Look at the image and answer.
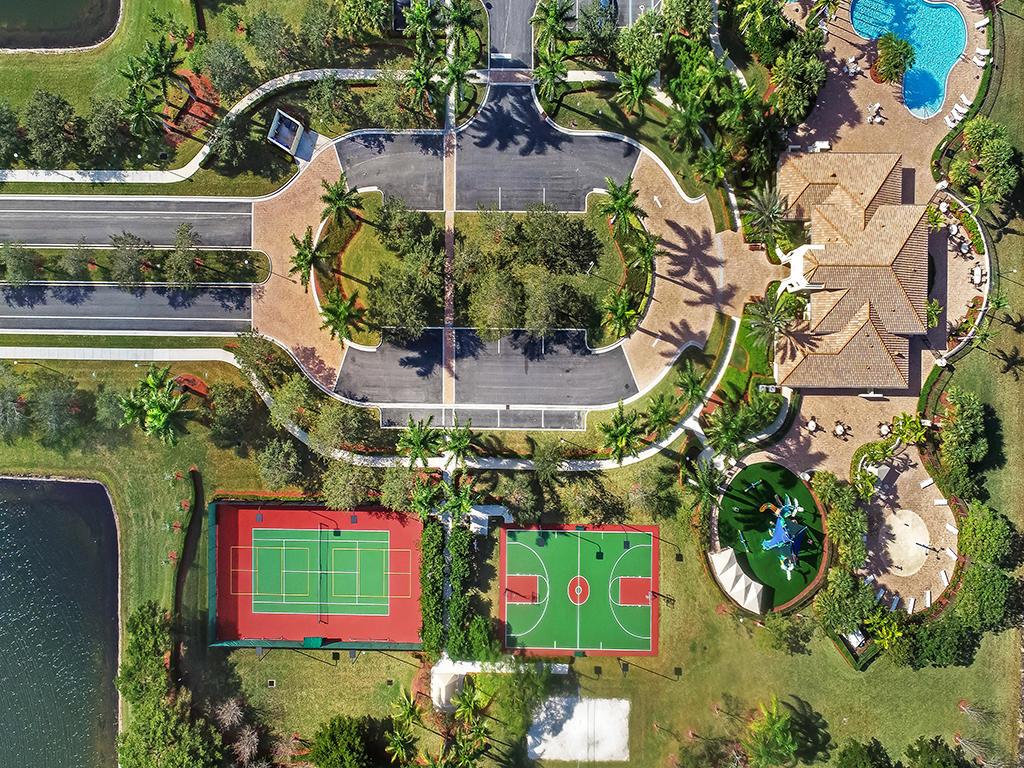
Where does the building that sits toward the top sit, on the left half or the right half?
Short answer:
right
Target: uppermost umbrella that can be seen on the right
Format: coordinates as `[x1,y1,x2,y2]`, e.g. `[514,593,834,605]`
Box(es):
[875,461,891,482]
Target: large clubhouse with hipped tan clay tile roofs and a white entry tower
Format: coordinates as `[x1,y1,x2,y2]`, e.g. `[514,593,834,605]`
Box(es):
[768,152,928,388]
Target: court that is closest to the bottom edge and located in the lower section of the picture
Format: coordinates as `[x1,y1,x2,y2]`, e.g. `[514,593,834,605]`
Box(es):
[529,699,630,761]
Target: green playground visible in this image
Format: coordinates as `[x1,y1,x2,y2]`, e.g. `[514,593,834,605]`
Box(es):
[717,460,831,618]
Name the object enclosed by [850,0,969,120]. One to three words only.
swimming pool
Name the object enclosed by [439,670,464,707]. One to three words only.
building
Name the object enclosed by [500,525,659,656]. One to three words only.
basketball court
